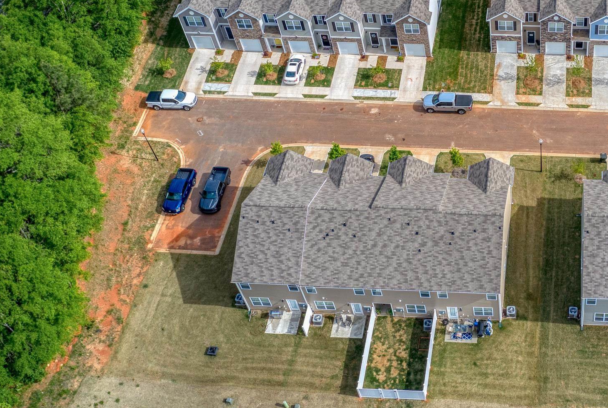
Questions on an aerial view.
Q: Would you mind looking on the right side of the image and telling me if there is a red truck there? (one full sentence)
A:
No, the scene shows no red truck on the right side of the image.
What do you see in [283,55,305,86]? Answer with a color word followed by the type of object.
white car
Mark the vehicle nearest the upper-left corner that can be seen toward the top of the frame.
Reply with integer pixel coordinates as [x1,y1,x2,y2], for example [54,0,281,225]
[142,93,198,116]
